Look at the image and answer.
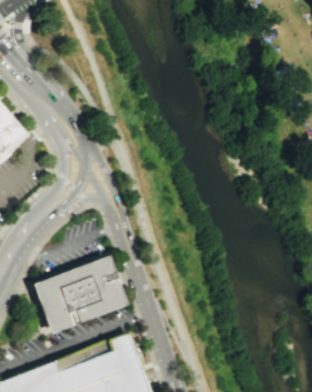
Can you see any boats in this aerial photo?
No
